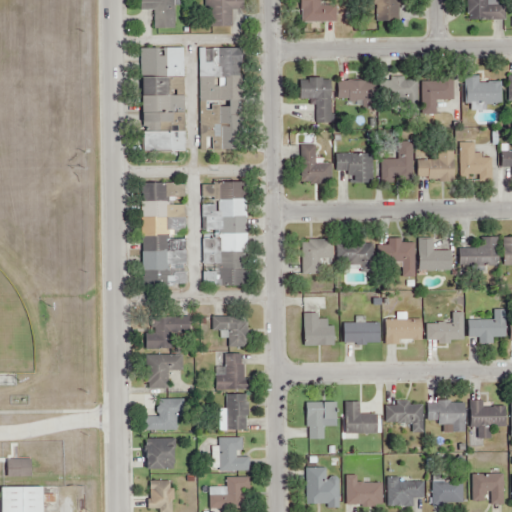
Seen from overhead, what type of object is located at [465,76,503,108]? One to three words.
house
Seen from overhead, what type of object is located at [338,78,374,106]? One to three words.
house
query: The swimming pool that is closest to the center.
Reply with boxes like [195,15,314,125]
[344,270,367,284]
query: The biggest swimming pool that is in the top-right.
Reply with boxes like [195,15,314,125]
[474,110,498,124]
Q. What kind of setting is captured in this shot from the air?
residential area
